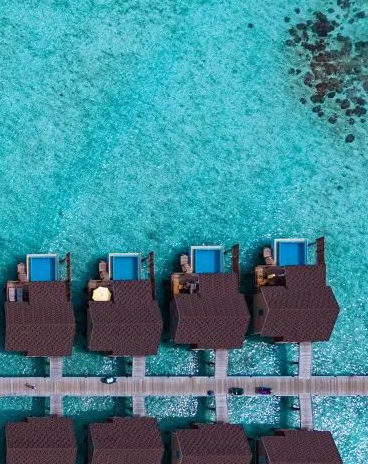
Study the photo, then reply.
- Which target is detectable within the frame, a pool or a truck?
pool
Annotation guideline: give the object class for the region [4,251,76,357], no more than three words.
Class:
house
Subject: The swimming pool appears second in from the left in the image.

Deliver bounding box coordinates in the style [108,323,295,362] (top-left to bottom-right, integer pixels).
[107,253,141,282]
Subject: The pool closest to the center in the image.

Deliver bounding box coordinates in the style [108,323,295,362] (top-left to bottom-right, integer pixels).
[187,246,223,275]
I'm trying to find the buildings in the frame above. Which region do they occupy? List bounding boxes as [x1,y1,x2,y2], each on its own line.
[87,418,165,464]
[4,251,76,357]
[249,432,342,464]
[246,236,339,341]
[164,243,250,348]
[168,425,253,464]
[84,250,163,356]
[6,417,77,464]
